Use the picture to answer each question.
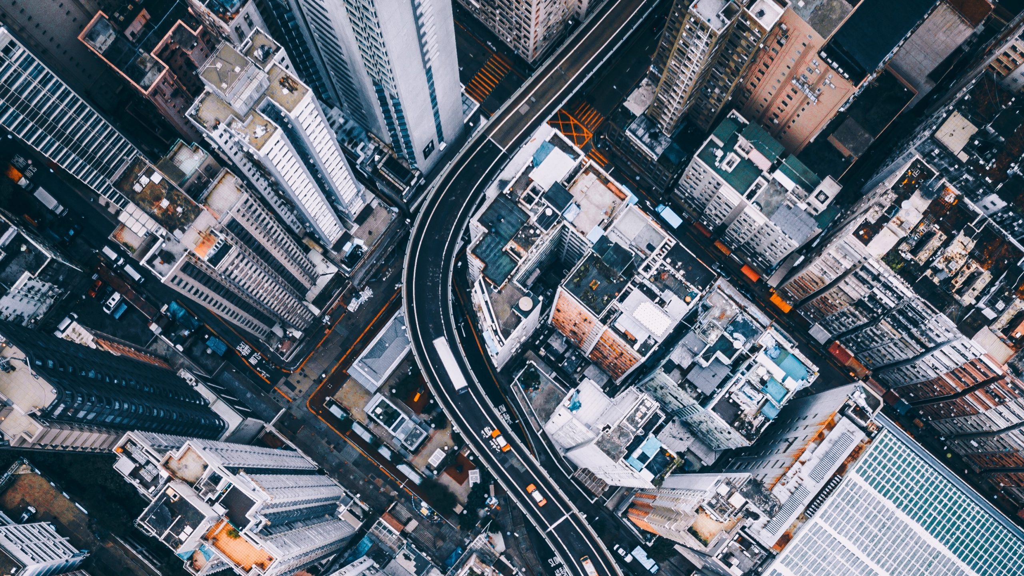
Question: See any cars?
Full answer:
Yes, there's a car here.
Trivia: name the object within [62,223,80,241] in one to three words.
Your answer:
car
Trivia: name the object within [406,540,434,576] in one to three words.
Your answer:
building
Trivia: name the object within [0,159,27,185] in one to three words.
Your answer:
truck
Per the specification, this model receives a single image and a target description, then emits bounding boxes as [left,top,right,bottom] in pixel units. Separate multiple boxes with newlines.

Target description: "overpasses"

[402,0,654,576]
